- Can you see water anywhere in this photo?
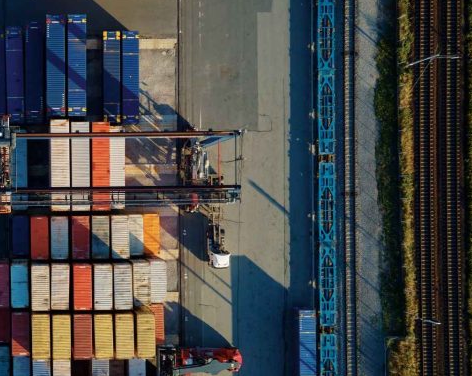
No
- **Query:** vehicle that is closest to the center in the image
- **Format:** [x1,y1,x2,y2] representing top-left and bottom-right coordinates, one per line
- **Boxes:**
[206,174,229,271]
